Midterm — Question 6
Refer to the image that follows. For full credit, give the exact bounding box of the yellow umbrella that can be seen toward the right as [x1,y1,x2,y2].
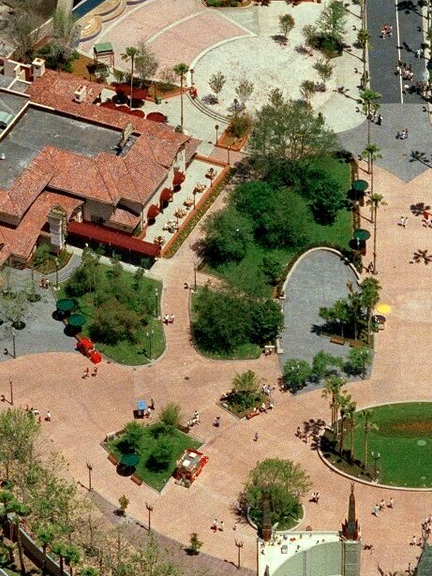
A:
[368,302,389,314]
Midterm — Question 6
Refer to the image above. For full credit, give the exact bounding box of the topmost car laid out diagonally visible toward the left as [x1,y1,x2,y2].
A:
[70,330,110,362]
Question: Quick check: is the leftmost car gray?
No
